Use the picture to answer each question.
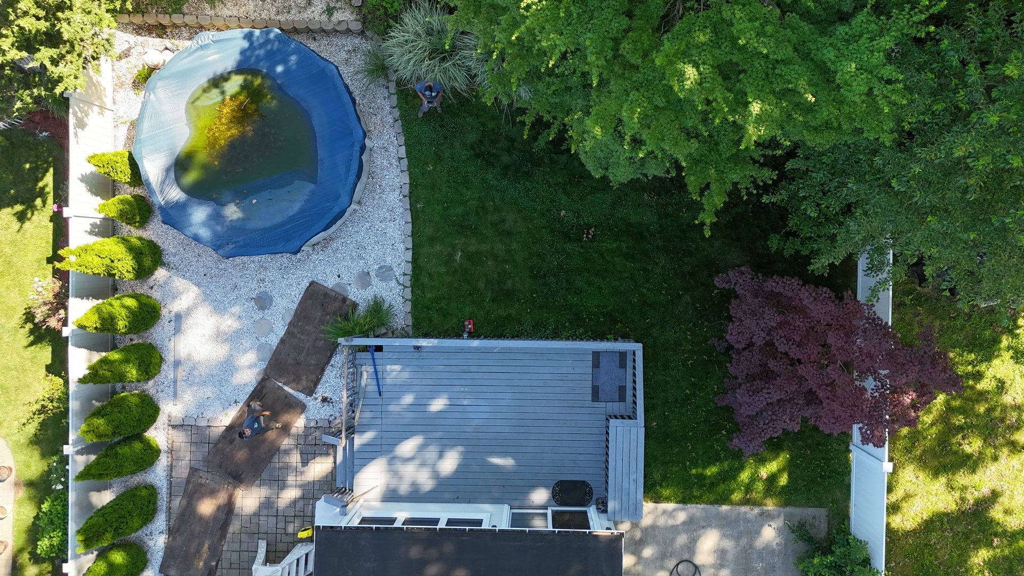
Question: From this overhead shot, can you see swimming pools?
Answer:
Yes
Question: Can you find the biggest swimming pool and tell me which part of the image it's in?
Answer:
top left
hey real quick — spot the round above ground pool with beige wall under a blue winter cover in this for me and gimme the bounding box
[132,28,374,259]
